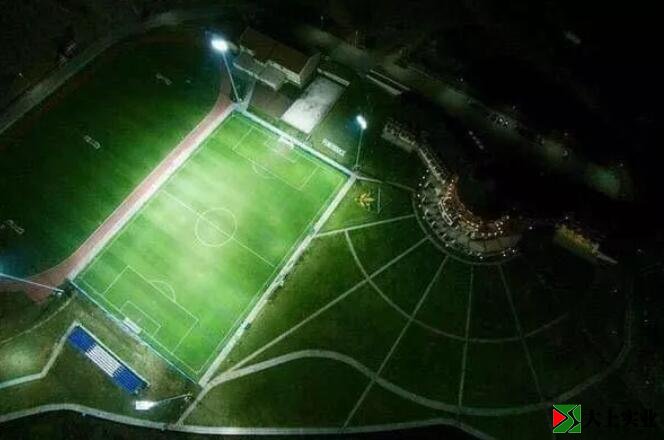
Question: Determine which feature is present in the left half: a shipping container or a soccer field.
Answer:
soccer field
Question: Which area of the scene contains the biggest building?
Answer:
top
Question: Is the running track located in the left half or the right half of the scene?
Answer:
left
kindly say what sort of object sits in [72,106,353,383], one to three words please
soccer field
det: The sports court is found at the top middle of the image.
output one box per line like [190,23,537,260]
[281,77,346,135]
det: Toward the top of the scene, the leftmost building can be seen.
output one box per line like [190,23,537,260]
[231,22,320,91]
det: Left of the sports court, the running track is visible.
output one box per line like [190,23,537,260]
[0,32,237,305]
